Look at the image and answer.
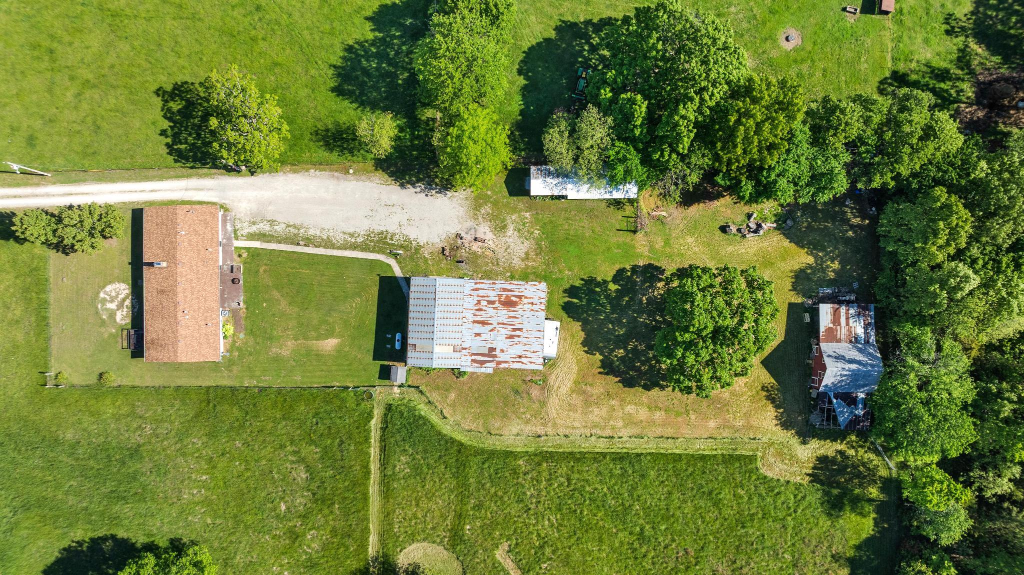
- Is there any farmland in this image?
Yes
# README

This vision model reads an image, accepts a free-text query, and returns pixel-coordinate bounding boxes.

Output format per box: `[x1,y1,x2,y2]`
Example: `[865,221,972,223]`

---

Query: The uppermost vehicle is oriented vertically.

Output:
[572,67,592,103]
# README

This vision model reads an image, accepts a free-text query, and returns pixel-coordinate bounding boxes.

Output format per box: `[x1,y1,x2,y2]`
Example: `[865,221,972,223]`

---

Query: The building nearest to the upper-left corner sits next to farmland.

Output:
[143,205,227,362]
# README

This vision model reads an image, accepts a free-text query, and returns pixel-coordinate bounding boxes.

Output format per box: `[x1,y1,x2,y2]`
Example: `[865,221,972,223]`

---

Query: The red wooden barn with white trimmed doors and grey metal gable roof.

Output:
[812,304,883,430]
